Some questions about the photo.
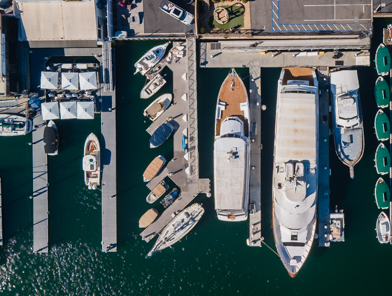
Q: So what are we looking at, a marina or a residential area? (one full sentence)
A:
What you see here is a marina.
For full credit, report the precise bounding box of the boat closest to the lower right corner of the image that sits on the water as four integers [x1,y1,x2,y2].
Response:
[375,210,392,244]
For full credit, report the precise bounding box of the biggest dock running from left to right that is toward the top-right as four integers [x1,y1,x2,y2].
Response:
[199,40,372,68]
